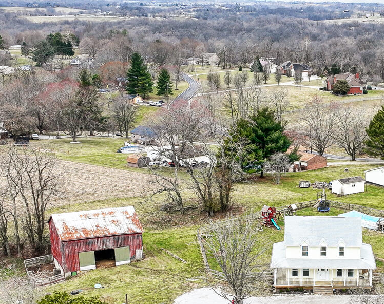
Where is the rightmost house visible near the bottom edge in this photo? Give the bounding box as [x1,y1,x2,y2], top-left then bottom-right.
[271,216,376,295]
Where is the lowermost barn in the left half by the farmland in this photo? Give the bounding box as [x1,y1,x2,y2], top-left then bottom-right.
[44,205,147,277]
